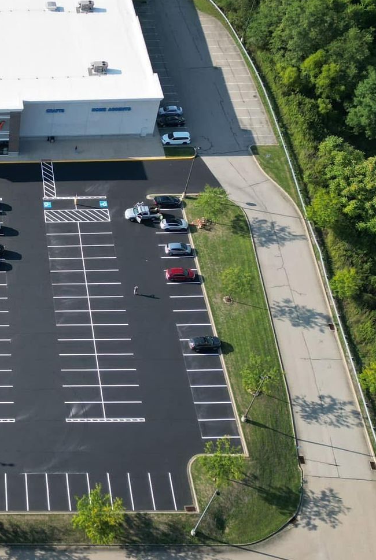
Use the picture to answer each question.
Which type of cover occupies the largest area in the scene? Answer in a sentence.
The largest share of the image is taken up by paved ground.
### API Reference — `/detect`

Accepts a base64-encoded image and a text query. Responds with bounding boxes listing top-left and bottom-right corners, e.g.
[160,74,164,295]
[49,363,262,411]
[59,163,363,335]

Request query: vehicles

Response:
[152,197,181,209]
[164,243,193,257]
[0,244,5,257]
[159,219,190,233]
[159,107,184,118]
[165,268,196,283]
[187,337,221,352]
[125,207,160,223]
[160,132,191,146]
[158,117,185,129]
